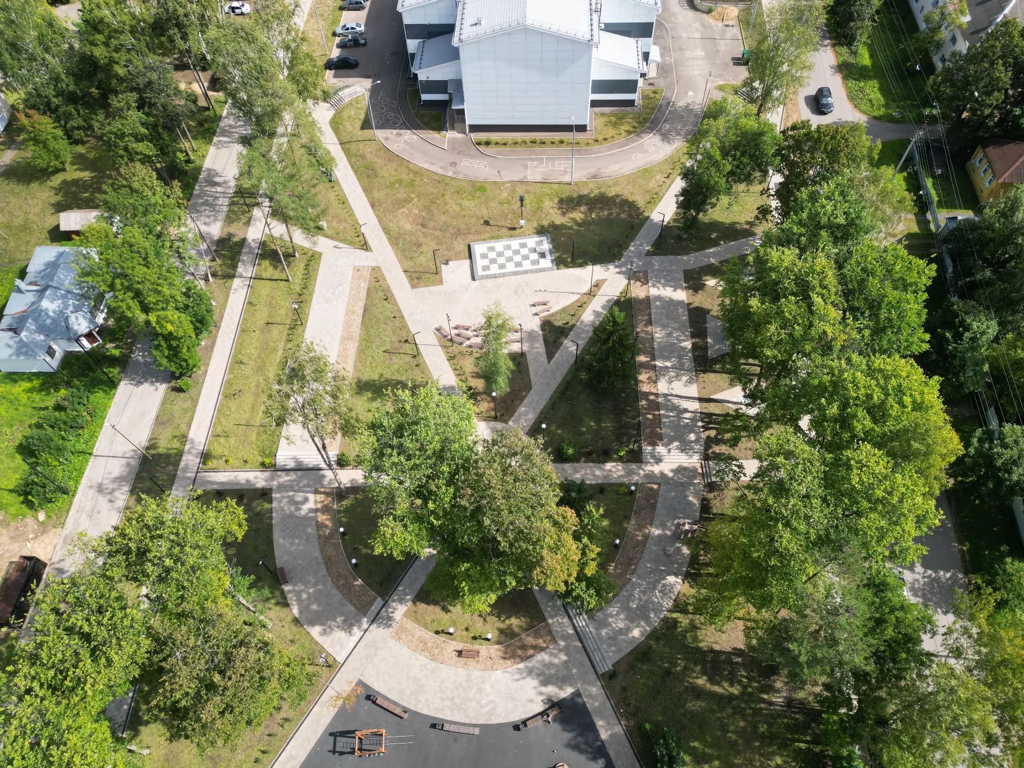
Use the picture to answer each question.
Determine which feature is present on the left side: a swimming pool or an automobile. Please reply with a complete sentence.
It is an automobile that can be seen on the left side.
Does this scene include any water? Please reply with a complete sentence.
No, the picture contains no water.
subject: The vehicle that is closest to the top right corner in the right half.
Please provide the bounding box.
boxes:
[814,85,836,114]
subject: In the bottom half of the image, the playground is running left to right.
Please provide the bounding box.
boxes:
[299,678,617,768]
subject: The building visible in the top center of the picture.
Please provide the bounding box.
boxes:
[395,0,663,133]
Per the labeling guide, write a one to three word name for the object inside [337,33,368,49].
car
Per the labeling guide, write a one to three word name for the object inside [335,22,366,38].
car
